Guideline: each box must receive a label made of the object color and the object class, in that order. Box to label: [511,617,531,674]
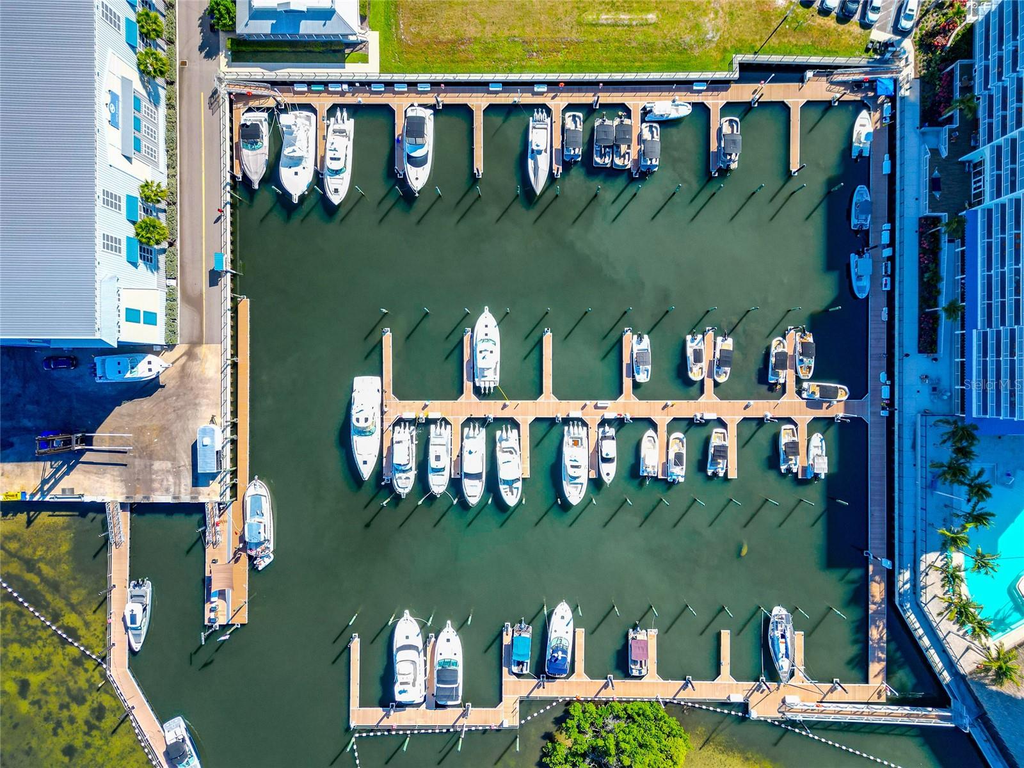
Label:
blue boat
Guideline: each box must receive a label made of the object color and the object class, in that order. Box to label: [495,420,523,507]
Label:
white boat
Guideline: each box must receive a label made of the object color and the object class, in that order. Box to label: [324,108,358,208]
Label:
white boat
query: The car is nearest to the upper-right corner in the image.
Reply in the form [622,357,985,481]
[897,0,919,32]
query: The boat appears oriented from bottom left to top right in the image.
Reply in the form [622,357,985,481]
[254,555,275,571]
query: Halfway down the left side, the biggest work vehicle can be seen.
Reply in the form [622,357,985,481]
[33,430,133,457]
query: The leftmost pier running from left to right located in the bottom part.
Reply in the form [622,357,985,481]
[351,699,519,728]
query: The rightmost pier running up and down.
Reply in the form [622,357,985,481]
[867,78,888,680]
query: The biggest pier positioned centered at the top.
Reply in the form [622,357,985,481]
[235,81,869,107]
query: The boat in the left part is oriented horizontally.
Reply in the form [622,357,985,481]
[89,354,174,382]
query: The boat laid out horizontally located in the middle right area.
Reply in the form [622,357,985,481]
[796,382,850,402]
